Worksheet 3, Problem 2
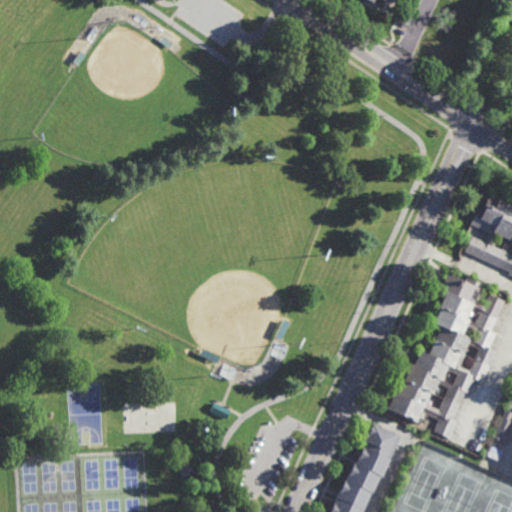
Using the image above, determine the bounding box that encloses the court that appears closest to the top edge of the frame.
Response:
[68,384,102,447]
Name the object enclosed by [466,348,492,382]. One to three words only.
building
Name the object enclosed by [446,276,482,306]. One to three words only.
house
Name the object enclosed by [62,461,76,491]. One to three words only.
sports court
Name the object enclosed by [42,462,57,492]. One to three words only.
sports court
